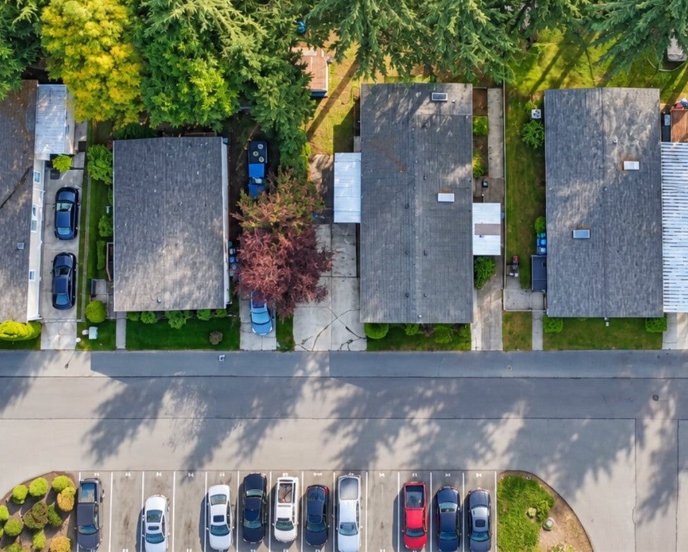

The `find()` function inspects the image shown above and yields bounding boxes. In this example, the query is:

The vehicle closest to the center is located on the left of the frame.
[248,292,274,340]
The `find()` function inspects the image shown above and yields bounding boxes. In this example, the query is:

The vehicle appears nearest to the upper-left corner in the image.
[52,187,83,240]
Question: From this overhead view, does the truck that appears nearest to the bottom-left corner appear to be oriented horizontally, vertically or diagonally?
vertically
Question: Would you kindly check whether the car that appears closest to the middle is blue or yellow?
blue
